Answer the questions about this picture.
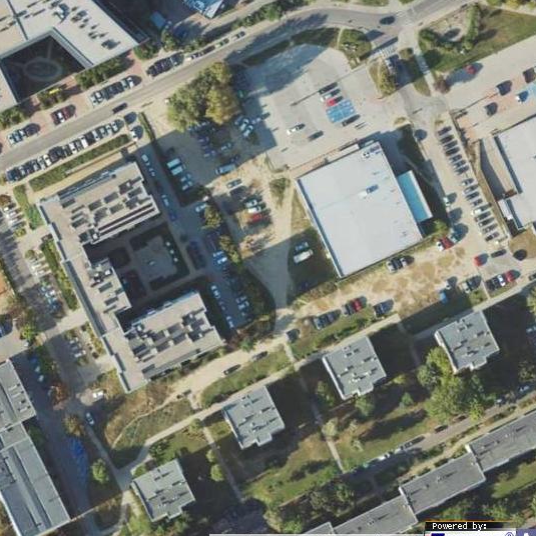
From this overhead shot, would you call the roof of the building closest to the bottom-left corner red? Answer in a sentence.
No, the color of the roof of the building closest to the bottom-left corner is gray.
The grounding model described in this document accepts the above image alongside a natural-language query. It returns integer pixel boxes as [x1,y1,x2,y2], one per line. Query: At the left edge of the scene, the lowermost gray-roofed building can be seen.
[0,437,72,536]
